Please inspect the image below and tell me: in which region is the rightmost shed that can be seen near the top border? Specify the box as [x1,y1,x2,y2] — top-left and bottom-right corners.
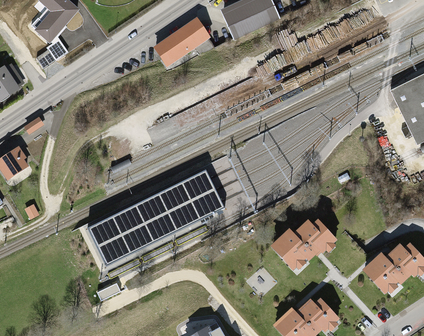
[222,0,280,39]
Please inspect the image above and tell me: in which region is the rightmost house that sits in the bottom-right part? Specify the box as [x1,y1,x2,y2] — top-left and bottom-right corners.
[364,242,424,300]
